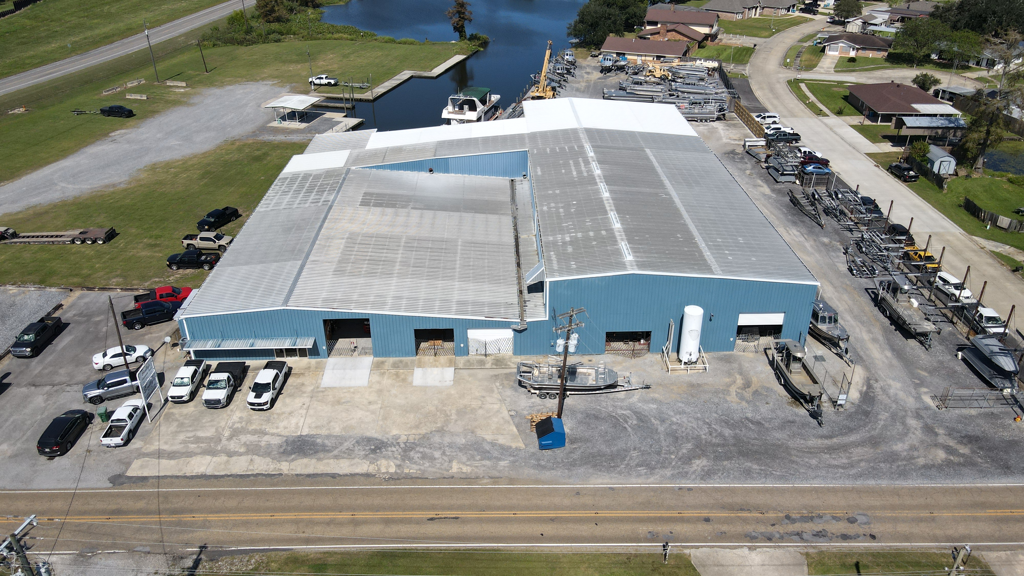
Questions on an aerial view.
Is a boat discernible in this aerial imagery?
Yes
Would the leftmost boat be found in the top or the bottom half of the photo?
top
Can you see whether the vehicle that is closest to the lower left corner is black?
Yes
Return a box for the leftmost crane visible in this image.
[523,40,563,100]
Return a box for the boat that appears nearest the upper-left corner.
[442,85,504,124]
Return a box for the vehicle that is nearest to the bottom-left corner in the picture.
[30,407,91,459]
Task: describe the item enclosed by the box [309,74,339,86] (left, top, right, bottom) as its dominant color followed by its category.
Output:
white vehicle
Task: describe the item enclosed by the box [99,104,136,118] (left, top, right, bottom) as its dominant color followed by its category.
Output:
black vehicle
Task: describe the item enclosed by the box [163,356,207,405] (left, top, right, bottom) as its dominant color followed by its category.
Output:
white truck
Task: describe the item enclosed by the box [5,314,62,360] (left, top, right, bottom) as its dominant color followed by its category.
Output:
black truck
